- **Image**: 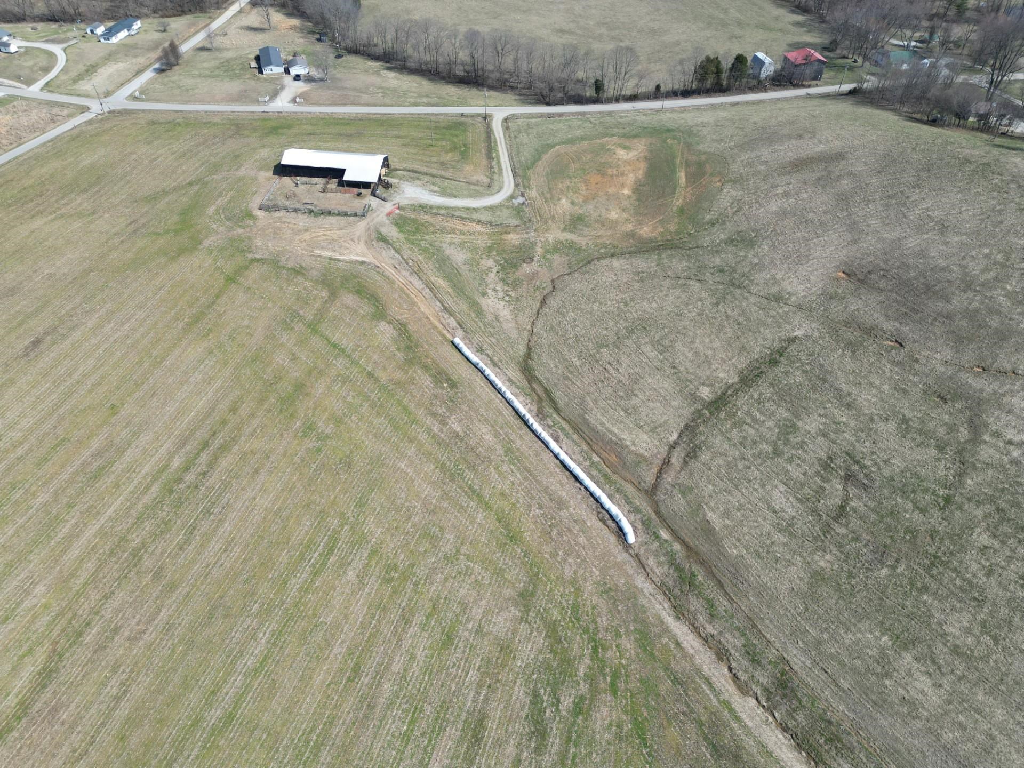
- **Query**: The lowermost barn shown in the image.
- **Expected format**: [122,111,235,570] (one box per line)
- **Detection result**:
[278,147,390,190]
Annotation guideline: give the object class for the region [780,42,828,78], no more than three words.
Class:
barn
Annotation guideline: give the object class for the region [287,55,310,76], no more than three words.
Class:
building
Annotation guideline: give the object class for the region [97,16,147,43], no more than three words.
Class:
house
